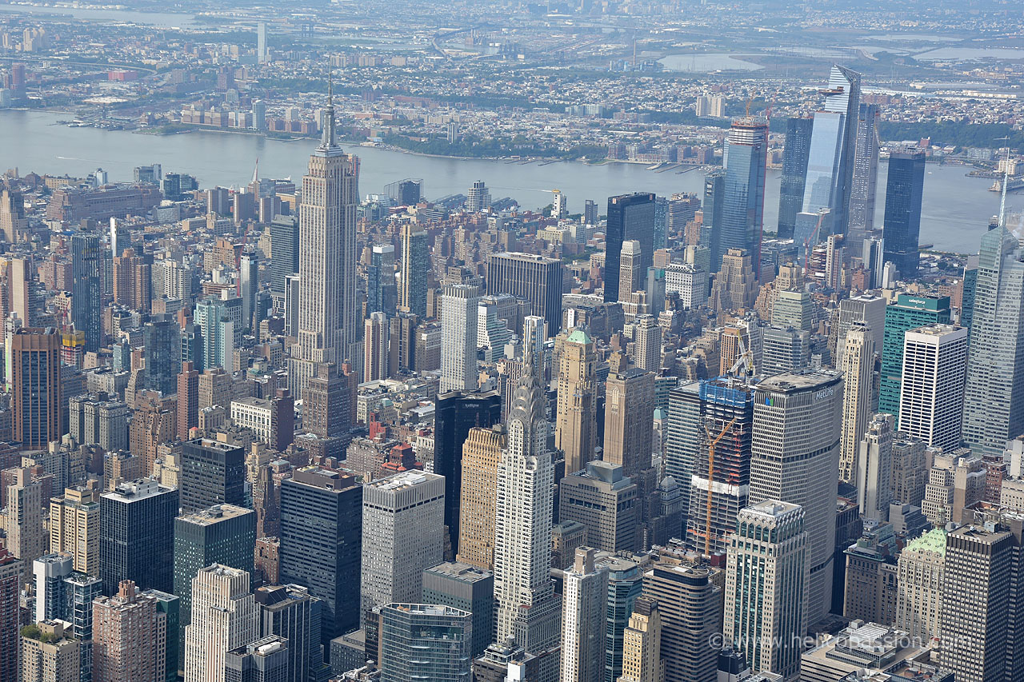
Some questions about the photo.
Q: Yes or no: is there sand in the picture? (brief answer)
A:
No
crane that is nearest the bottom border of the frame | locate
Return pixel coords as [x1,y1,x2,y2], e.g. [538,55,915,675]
[703,418,737,558]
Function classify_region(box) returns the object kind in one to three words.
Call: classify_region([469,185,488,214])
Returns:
building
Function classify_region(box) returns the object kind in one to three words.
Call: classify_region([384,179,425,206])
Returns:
building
